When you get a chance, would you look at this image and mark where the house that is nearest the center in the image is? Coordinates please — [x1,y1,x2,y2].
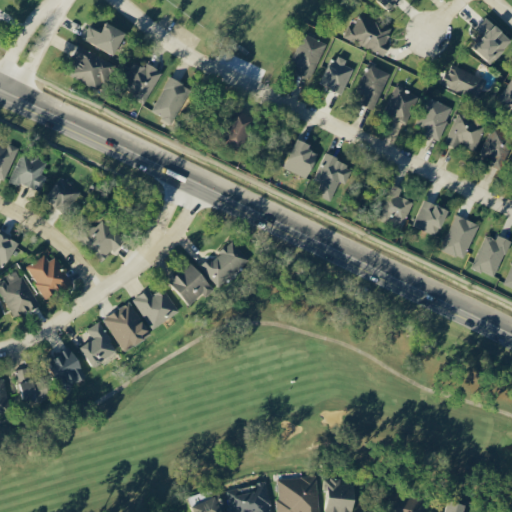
[206,243,250,288]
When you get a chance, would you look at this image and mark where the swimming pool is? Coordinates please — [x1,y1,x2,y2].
[474,66,494,90]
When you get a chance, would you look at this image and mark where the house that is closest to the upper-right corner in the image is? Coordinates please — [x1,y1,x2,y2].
[470,17,512,64]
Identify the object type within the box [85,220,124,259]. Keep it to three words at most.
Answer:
house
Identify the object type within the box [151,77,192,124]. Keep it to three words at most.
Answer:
house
